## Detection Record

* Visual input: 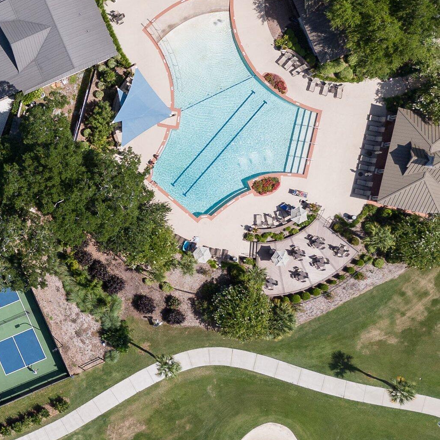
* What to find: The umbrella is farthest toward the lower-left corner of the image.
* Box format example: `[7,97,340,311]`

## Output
[191,246,211,264]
